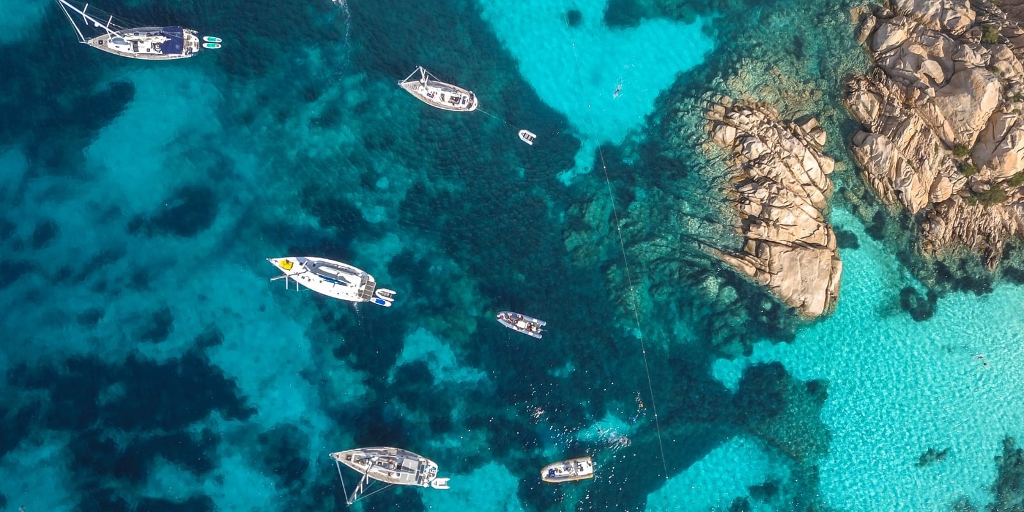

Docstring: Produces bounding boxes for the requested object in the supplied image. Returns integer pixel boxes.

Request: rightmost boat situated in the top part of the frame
[518,129,536,145]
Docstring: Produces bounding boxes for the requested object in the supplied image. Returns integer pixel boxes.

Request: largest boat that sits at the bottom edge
[329,446,439,509]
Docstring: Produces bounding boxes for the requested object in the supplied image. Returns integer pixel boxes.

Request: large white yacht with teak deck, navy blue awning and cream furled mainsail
[54,0,204,60]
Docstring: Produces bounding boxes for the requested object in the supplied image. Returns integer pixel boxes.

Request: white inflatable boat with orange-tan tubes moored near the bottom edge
[540,456,596,483]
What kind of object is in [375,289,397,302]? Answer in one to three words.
boat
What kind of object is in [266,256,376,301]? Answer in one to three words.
boat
